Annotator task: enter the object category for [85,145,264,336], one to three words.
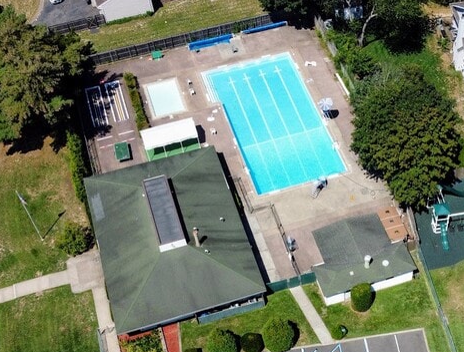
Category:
building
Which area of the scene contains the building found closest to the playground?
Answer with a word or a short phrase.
bottom right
